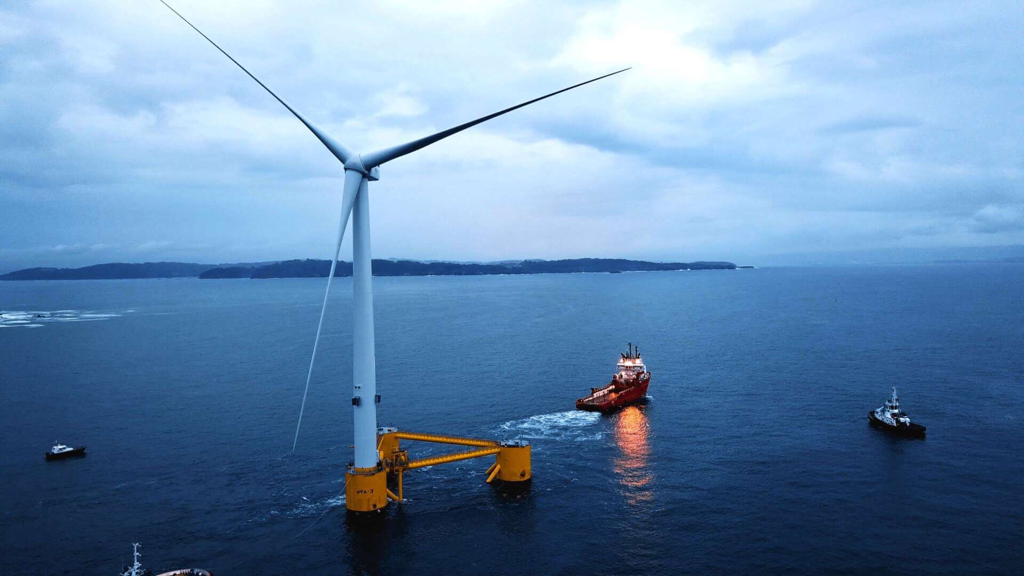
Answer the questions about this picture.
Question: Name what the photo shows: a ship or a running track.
ship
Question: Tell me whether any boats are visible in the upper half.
No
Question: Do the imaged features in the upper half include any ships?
No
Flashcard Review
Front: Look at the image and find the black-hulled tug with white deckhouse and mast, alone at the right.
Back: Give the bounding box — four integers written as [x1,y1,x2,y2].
[871,387,930,437]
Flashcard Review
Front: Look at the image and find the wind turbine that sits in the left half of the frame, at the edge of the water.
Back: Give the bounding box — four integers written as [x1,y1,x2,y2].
[159,0,628,471]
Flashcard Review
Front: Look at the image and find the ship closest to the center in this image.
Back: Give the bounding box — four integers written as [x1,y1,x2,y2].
[579,340,653,412]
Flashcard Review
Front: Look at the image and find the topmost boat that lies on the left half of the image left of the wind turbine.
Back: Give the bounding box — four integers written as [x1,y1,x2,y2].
[46,446,87,460]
